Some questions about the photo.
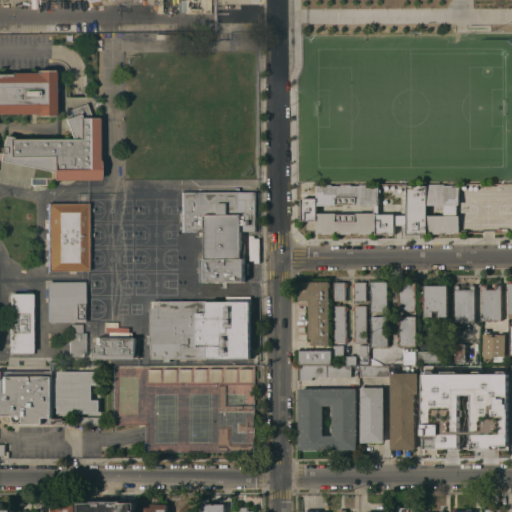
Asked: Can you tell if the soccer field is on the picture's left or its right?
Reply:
right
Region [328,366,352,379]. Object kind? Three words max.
house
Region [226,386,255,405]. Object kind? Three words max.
sports court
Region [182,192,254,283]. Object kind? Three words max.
building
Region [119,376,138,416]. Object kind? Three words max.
sports court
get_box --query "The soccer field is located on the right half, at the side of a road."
[297,34,512,182]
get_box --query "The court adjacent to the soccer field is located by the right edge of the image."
[462,186,512,231]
